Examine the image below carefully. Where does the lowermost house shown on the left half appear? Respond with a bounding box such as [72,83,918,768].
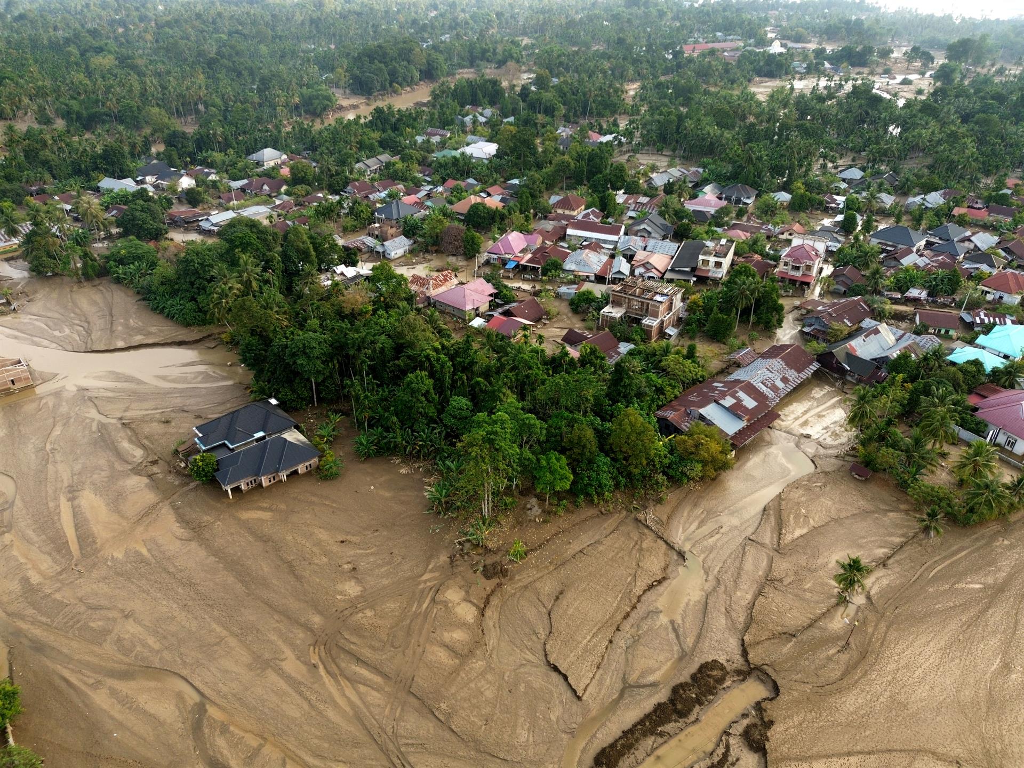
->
[194,399,318,505]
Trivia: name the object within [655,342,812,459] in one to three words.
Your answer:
barn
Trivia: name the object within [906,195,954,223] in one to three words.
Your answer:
house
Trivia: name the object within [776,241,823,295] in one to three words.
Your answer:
house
